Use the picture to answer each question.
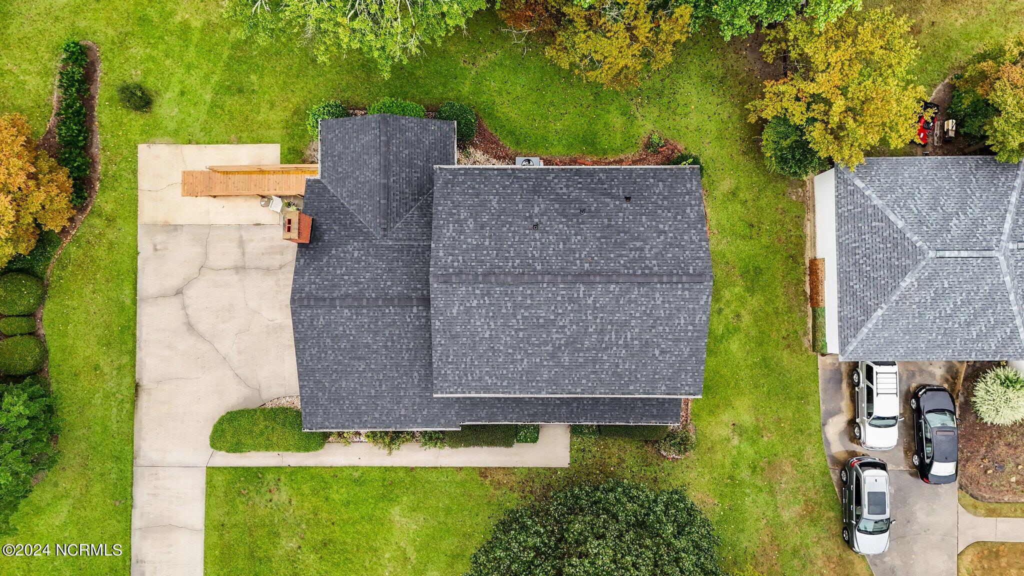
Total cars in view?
3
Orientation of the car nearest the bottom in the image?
from top to bottom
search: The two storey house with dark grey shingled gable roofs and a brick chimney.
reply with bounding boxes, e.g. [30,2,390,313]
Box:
[283,114,712,433]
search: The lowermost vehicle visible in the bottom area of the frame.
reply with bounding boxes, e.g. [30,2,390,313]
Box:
[841,455,895,555]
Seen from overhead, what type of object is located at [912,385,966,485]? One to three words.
car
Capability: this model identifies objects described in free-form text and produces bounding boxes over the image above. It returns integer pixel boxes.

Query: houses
[283,114,712,433]
[815,155,1024,361]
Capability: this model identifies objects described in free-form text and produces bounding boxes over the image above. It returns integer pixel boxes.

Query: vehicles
[841,455,895,555]
[912,385,966,485]
[854,360,907,450]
